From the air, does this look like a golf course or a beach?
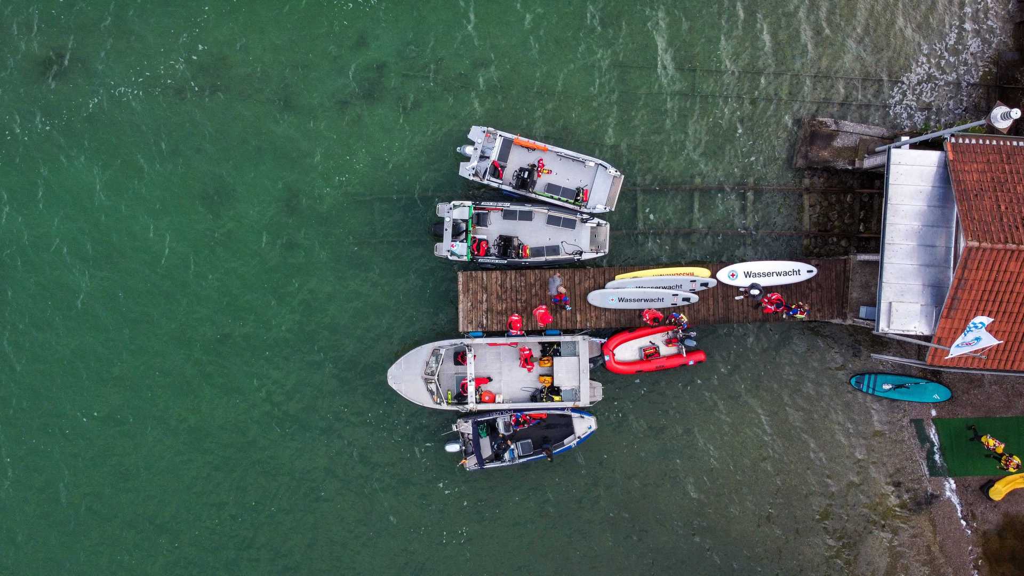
beach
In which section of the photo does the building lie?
right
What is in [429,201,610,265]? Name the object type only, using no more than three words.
boat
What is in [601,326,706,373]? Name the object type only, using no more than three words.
boat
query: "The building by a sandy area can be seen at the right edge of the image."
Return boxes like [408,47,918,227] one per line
[874,131,1024,372]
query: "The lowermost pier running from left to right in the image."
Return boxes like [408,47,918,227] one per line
[458,257,847,332]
